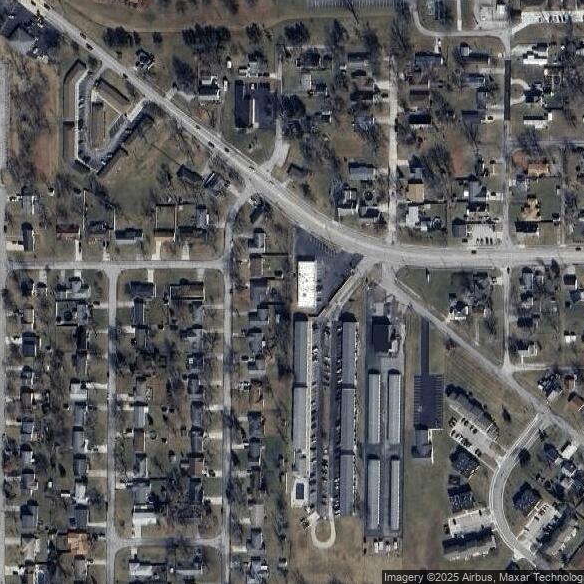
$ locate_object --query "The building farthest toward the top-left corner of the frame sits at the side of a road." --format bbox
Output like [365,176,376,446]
[5,26,35,57]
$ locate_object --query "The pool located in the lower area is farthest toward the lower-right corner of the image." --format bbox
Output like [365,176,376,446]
[291,477,309,507]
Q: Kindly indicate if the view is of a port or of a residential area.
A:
residential area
